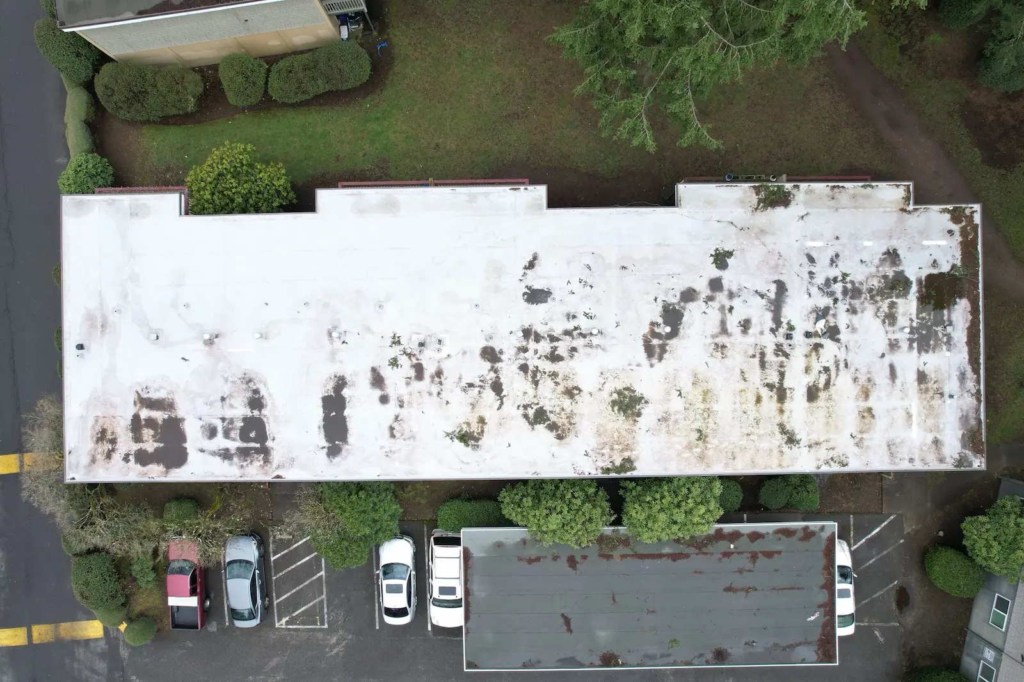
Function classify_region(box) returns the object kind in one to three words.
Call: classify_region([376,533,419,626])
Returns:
car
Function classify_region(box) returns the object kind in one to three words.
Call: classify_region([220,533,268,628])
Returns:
car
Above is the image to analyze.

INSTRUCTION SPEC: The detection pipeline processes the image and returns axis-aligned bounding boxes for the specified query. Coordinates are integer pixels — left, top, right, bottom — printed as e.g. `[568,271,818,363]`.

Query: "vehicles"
[376,533,419,626]
[220,533,268,628]
[837,537,861,633]
[163,533,213,632]
[425,528,464,625]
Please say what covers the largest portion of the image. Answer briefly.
buildings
